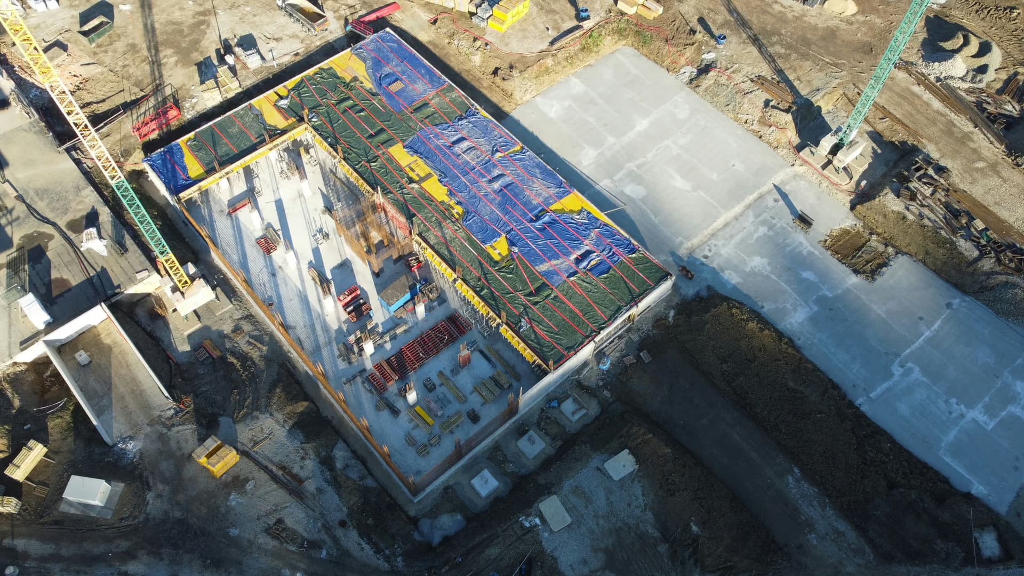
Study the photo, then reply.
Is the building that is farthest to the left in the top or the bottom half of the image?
bottom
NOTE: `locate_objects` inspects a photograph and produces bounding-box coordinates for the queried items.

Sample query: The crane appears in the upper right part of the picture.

[800,0,948,200]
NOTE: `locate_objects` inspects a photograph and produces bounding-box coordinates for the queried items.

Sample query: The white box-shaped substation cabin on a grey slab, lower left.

[46,468,128,522]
